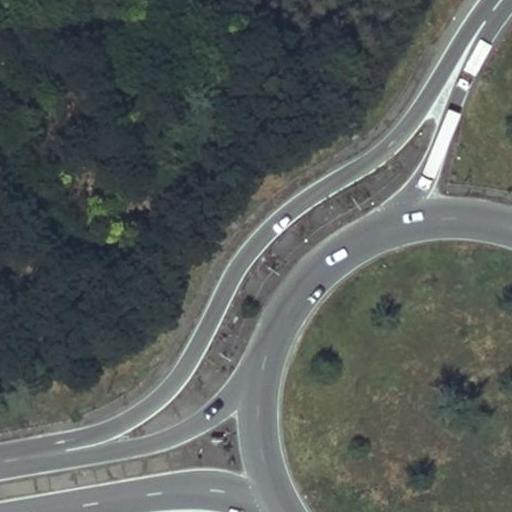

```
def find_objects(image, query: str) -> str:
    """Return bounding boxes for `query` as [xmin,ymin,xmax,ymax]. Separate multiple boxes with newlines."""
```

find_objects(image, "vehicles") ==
[324,248,349,266]
[402,212,424,223]
[307,284,325,305]
[416,104,462,192]
[274,216,292,234]
[202,399,224,418]
[455,39,492,92]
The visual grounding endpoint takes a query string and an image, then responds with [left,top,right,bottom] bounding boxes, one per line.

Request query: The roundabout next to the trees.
[225,196,512,512]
